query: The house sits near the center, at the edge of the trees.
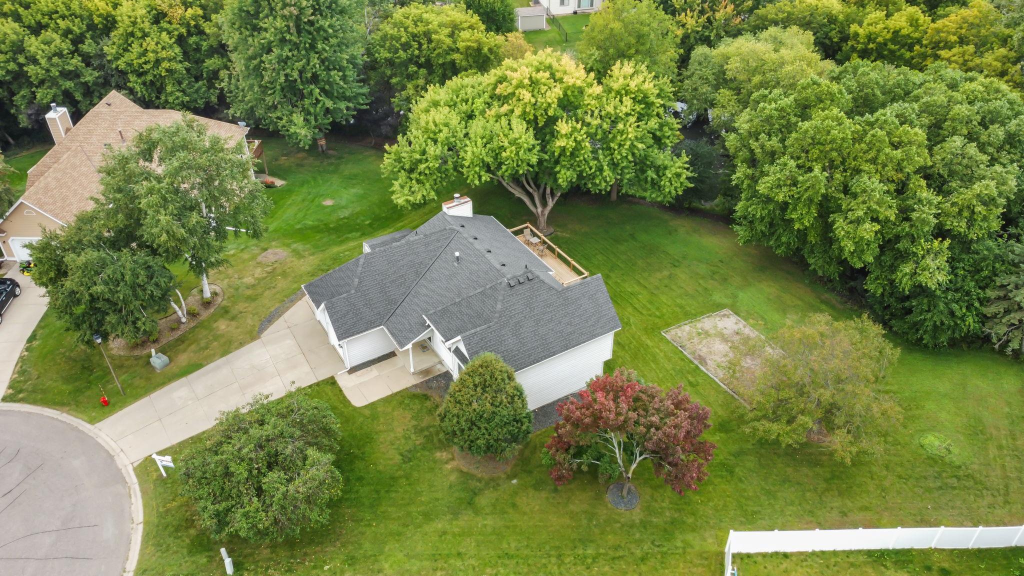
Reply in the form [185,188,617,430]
[300,197,622,422]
